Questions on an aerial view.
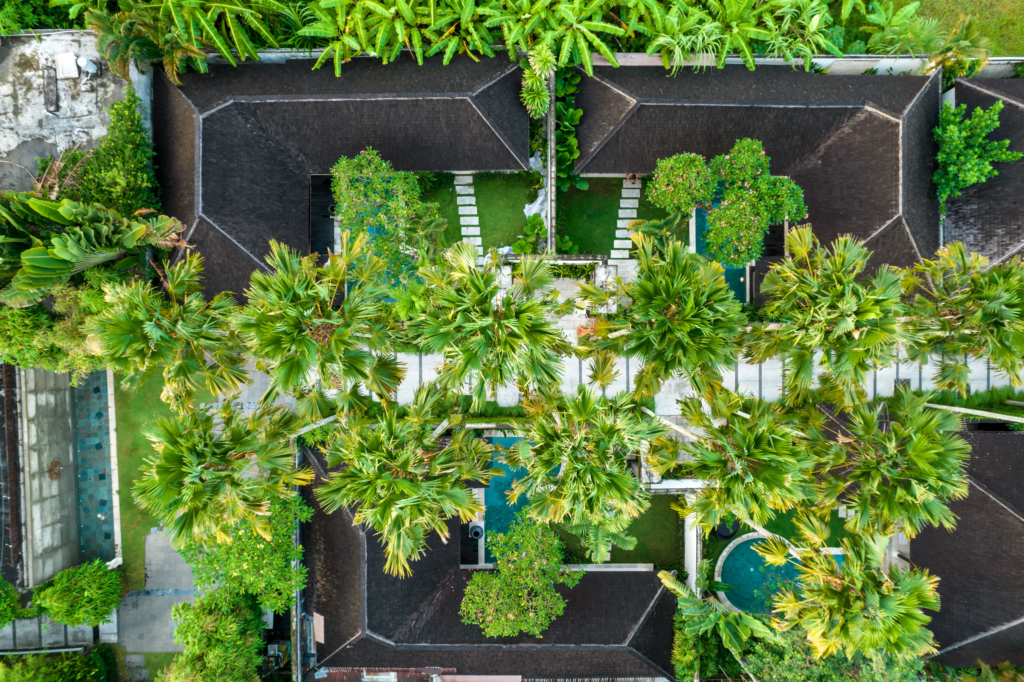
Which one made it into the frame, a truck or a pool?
pool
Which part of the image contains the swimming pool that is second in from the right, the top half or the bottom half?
top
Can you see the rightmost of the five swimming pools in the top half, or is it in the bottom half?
bottom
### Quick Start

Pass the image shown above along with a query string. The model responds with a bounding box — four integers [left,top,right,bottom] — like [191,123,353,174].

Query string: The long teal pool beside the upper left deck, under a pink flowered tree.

[340,171,436,307]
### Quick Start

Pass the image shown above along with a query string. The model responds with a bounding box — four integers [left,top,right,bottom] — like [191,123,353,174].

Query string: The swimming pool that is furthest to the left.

[74,361,121,573]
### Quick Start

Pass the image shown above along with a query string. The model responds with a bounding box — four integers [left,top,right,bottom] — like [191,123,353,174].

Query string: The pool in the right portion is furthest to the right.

[715,532,853,620]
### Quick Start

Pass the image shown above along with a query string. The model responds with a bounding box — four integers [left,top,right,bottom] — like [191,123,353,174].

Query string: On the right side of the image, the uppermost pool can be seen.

[661,175,753,288]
